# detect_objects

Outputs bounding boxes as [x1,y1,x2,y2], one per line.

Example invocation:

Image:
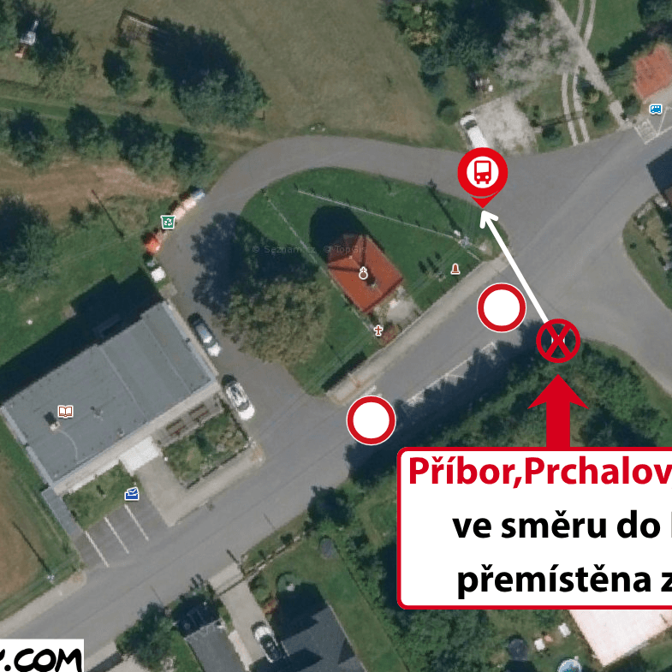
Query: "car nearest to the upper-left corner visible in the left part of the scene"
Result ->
[185,312,224,359]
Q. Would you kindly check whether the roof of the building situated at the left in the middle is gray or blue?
gray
